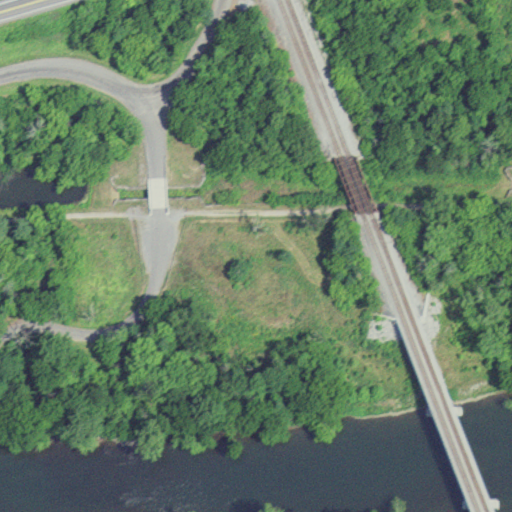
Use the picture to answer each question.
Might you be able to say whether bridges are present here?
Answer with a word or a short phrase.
Yes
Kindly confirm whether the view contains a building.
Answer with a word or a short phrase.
No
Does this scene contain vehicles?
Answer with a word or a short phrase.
No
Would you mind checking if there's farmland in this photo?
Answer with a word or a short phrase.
No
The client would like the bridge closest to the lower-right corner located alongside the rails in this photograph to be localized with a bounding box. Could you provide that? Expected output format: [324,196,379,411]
[371,292,500,512]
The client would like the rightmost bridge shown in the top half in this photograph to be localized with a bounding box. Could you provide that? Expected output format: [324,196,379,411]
[324,155,386,216]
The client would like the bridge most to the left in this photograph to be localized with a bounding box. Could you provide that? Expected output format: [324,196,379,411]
[146,177,170,212]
